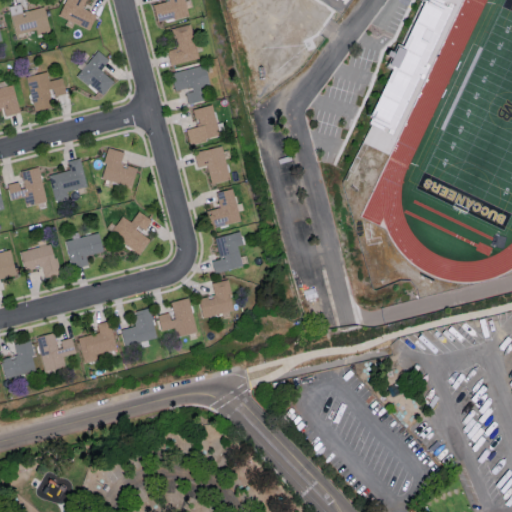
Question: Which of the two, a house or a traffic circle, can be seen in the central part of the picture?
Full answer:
What appears in the central part of the picture is a house.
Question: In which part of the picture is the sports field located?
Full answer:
The sports field sits in the top right section of the image.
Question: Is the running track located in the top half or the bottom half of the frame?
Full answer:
The top half of the photo is where the running track is.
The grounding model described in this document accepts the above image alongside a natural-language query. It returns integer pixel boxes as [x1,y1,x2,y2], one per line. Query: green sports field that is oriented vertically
[403,0,512,259]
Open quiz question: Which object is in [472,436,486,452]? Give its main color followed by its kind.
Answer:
white camper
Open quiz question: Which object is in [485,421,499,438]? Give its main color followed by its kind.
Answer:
white camper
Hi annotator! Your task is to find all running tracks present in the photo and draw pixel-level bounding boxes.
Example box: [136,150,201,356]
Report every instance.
[360,0,512,281]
